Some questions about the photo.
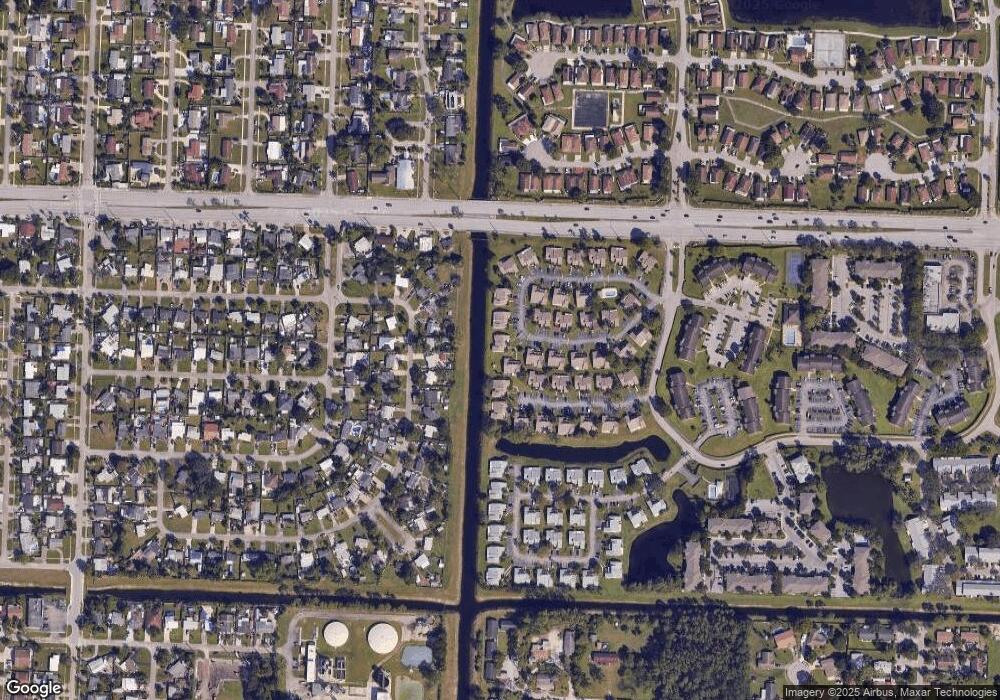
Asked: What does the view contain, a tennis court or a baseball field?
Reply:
tennis court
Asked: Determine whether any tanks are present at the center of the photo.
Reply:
No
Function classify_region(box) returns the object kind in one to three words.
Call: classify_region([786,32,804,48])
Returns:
swimming pool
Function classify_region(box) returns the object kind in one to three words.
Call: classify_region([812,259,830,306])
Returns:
building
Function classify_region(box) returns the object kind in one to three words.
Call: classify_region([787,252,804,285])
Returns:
tennis court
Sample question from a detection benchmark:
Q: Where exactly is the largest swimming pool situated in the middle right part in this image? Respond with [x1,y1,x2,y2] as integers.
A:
[783,324,803,348]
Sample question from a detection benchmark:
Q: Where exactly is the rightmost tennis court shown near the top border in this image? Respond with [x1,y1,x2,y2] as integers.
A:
[814,32,846,68]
